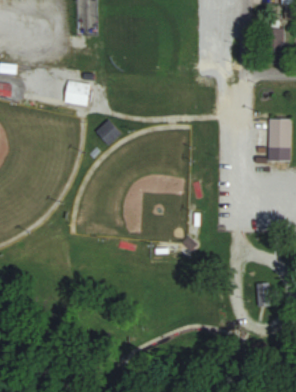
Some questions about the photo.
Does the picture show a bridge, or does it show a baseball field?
baseball field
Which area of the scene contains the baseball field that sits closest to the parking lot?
center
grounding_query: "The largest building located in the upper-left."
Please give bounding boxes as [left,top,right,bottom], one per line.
[66,81,92,106]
